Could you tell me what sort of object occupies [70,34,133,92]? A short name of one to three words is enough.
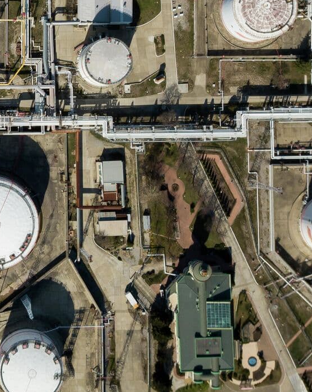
storage tank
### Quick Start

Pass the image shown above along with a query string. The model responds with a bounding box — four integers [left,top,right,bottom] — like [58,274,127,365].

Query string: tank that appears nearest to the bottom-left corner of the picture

[0,319,69,392]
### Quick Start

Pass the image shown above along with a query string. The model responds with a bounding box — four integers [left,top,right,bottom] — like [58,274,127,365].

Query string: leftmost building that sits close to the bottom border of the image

[169,253,234,391]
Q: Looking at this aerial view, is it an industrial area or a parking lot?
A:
industrial area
